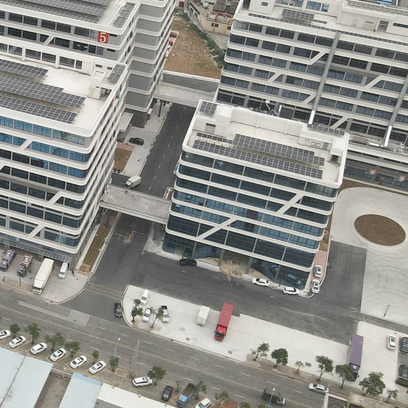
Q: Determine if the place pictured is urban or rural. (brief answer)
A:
urban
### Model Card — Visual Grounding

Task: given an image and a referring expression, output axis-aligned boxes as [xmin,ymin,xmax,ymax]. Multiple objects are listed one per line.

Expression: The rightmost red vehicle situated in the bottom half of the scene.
[212,293,237,345]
